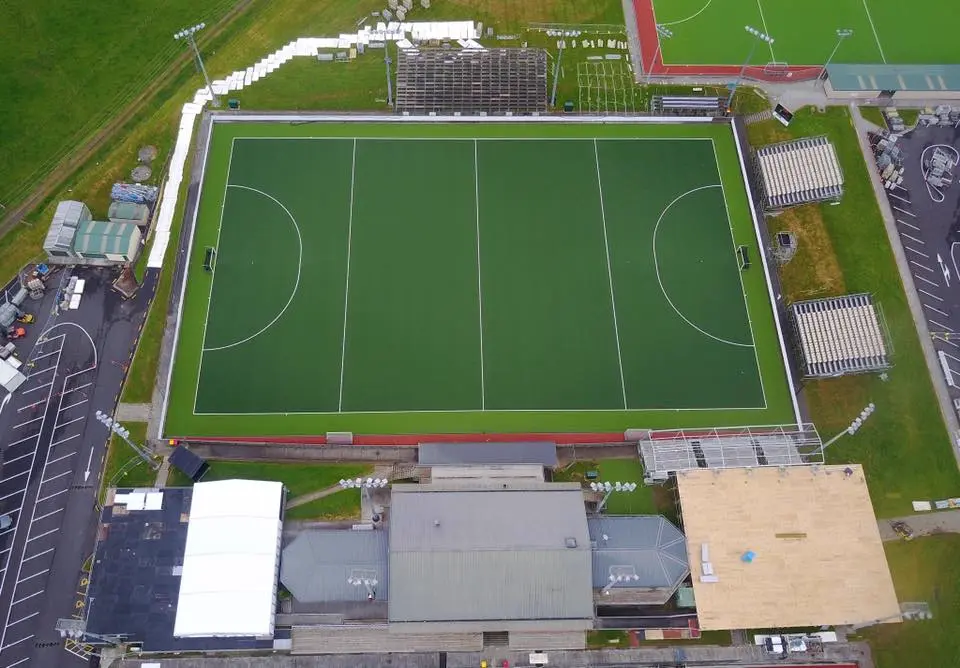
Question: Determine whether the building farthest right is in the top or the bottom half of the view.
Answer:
top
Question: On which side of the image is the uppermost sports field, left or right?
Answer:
right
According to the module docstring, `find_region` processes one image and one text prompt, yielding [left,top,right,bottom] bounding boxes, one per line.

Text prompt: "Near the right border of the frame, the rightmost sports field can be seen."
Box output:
[634,0,960,80]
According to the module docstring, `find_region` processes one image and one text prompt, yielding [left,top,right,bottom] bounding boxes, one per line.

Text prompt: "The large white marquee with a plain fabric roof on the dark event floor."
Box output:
[172,479,291,640]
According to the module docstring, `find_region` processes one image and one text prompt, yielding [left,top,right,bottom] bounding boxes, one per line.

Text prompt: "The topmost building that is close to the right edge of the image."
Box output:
[819,64,960,101]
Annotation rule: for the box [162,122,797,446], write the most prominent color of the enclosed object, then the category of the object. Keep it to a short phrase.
green sports field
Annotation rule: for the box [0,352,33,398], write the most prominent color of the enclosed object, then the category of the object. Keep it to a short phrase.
white truck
